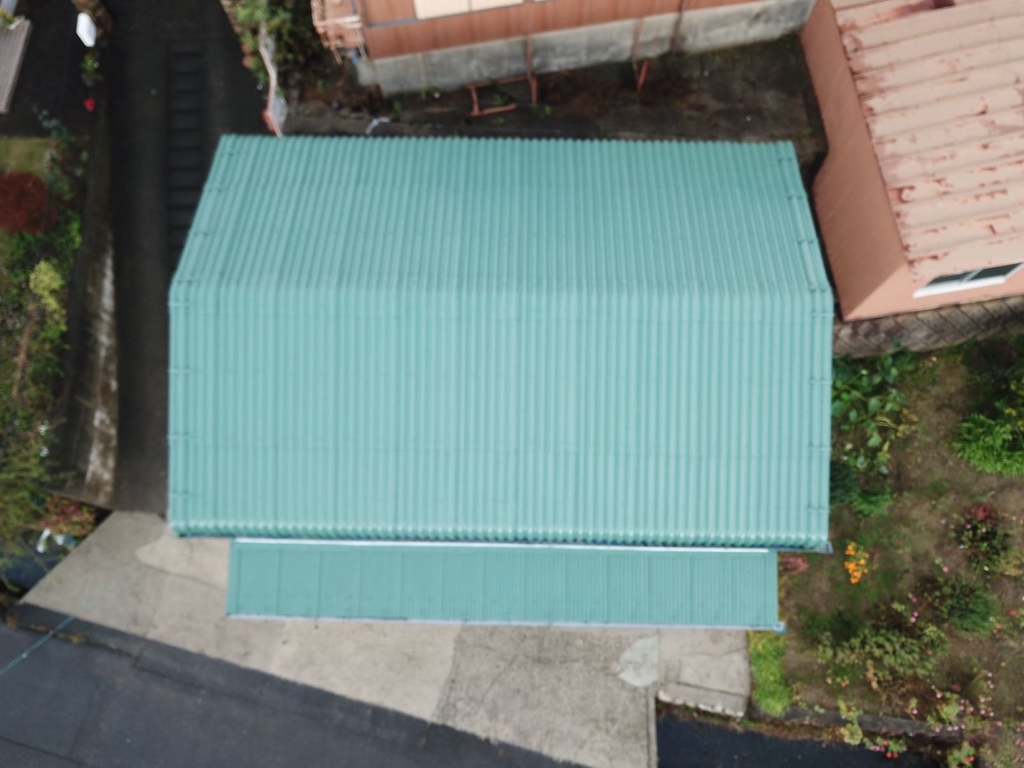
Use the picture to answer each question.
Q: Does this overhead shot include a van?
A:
No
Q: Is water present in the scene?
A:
No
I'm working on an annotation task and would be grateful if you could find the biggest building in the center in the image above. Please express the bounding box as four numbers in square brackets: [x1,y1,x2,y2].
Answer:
[166,135,836,553]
